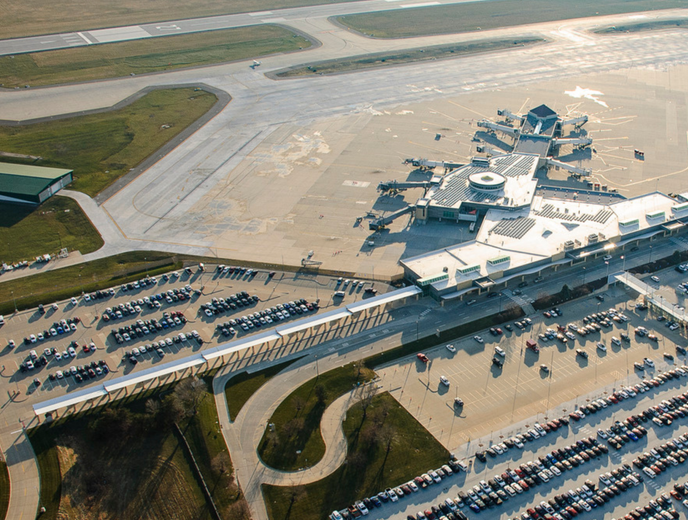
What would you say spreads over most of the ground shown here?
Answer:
paved ground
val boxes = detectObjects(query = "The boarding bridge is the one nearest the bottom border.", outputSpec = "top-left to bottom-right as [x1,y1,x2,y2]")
[369,202,415,230]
